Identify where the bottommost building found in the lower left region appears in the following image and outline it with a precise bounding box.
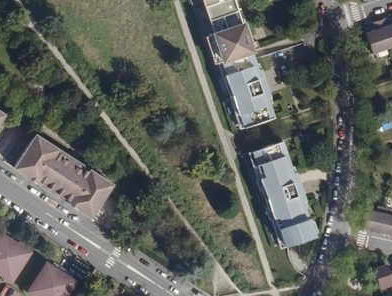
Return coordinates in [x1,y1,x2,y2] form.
[26,262,78,296]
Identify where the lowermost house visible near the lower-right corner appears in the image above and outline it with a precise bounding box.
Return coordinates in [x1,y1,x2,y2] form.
[373,264,392,290]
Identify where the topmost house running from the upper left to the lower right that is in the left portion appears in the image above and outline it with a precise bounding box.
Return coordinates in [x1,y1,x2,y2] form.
[15,134,116,222]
